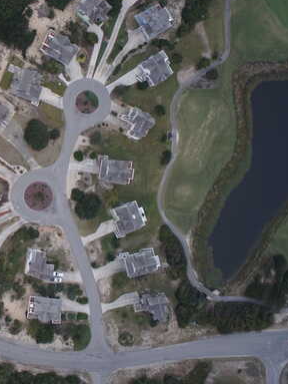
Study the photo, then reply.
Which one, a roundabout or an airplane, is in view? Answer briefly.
roundabout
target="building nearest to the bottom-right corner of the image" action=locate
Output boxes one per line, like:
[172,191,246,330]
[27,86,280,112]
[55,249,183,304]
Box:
[132,293,166,320]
